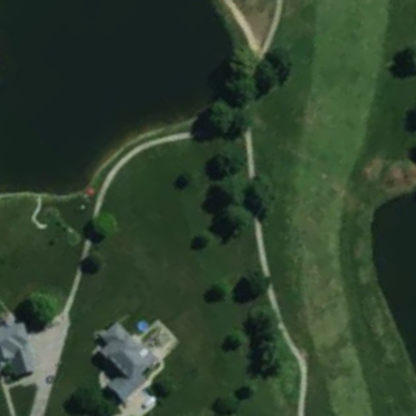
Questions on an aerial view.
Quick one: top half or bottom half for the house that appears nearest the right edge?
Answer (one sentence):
You can find the house that appears nearest the right edge in the bottom half.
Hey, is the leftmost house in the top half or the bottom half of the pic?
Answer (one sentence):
You can find the leftmost house in the bottom half.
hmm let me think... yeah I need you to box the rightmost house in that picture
[100,319,154,402]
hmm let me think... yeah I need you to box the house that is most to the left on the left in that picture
[0,316,37,375]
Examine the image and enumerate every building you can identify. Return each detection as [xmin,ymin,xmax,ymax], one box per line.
[0,316,37,375]
[100,319,154,402]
